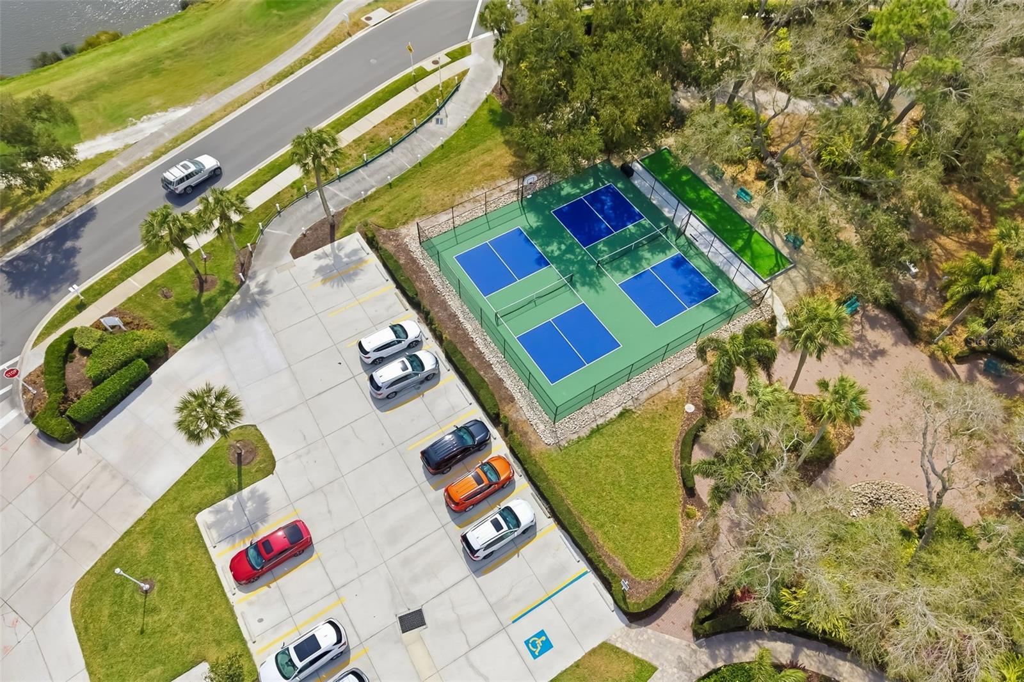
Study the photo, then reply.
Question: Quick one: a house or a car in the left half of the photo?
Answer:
car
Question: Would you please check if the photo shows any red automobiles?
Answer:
Yes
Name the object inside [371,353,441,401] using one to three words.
car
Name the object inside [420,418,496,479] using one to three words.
car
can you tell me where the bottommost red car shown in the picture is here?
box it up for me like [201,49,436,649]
[227,521,313,589]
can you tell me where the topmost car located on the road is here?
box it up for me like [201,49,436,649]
[165,153,227,195]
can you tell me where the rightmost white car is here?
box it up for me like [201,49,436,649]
[464,502,538,564]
